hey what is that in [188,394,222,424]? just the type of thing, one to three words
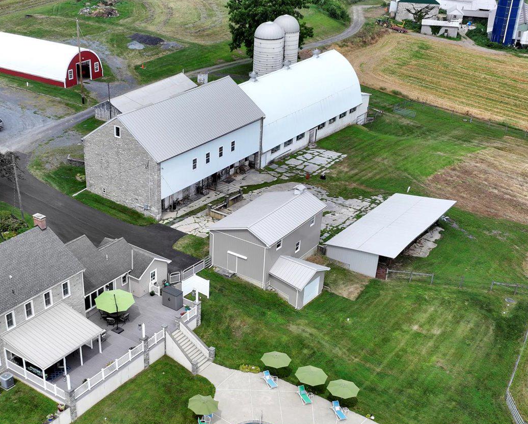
umbrella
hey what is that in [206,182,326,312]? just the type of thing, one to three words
barn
